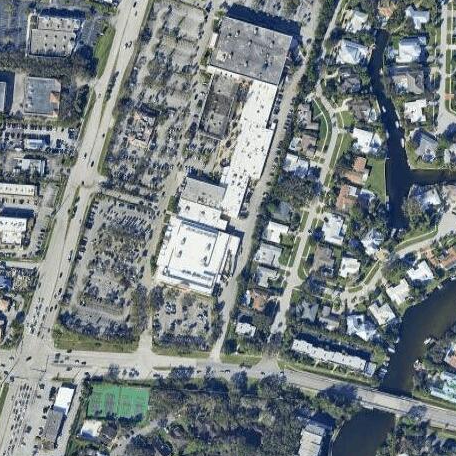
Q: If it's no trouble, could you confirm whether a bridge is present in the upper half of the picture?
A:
No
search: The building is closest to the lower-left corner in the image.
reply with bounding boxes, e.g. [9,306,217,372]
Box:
[43,408,64,449]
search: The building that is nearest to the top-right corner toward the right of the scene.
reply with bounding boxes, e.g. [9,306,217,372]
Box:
[401,4,429,28]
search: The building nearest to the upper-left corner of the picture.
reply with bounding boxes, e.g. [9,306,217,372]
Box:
[31,12,81,55]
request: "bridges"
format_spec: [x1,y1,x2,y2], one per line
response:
[370,389,421,419]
